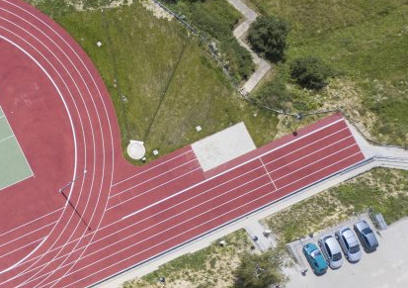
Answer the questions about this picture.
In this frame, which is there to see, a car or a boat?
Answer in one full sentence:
I can see a car in this picture.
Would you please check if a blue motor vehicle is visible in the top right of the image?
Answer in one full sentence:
No, no blue motor vehicle can be made out in the top right of the image.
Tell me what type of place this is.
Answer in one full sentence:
This looks like a sports ground.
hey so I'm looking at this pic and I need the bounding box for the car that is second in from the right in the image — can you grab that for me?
[335,227,363,261]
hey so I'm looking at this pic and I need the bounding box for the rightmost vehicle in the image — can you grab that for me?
[352,218,381,253]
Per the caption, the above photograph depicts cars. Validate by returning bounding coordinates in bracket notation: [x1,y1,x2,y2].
[335,227,363,261]
[352,218,381,253]
[317,234,344,268]
[301,242,329,277]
